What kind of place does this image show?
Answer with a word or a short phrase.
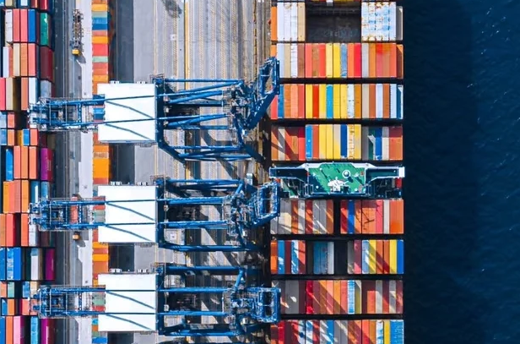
port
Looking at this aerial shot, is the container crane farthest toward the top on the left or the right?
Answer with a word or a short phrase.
left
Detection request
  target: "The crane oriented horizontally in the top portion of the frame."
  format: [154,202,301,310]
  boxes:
[27,60,279,178]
